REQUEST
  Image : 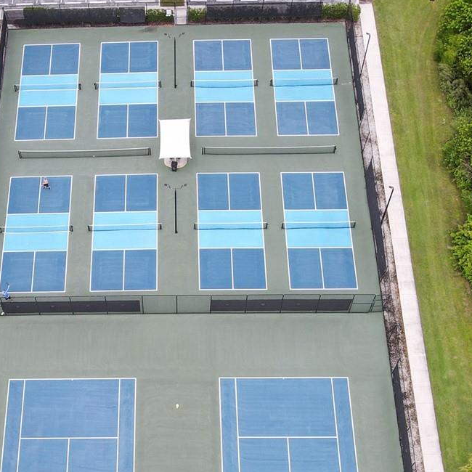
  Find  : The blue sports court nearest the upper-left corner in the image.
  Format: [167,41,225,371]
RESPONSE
[14,43,81,140]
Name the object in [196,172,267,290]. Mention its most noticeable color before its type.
blue sports court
